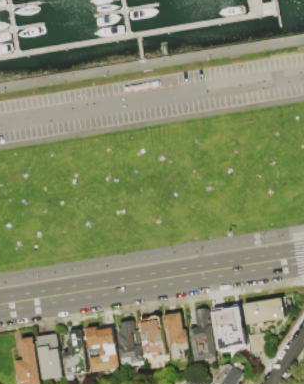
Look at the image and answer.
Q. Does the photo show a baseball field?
No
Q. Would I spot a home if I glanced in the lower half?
Yes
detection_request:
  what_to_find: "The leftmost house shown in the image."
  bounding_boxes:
[16,337,41,384]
